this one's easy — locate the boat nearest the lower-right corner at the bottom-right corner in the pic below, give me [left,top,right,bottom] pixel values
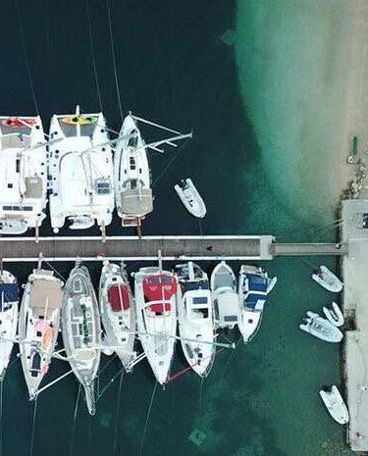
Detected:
[316,385,344,424]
